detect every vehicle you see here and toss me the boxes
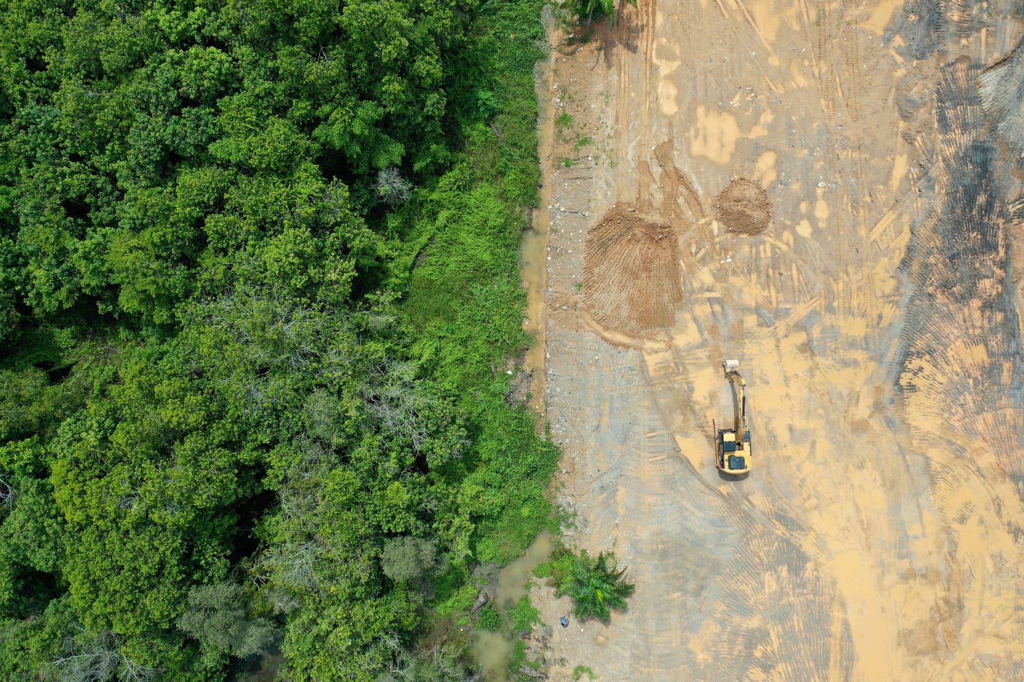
[710,359,755,477]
